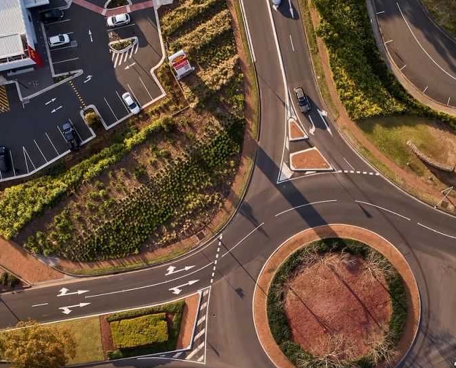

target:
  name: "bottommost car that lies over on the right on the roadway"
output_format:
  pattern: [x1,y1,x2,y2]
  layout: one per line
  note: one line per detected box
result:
[293,85,309,113]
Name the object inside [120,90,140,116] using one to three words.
car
